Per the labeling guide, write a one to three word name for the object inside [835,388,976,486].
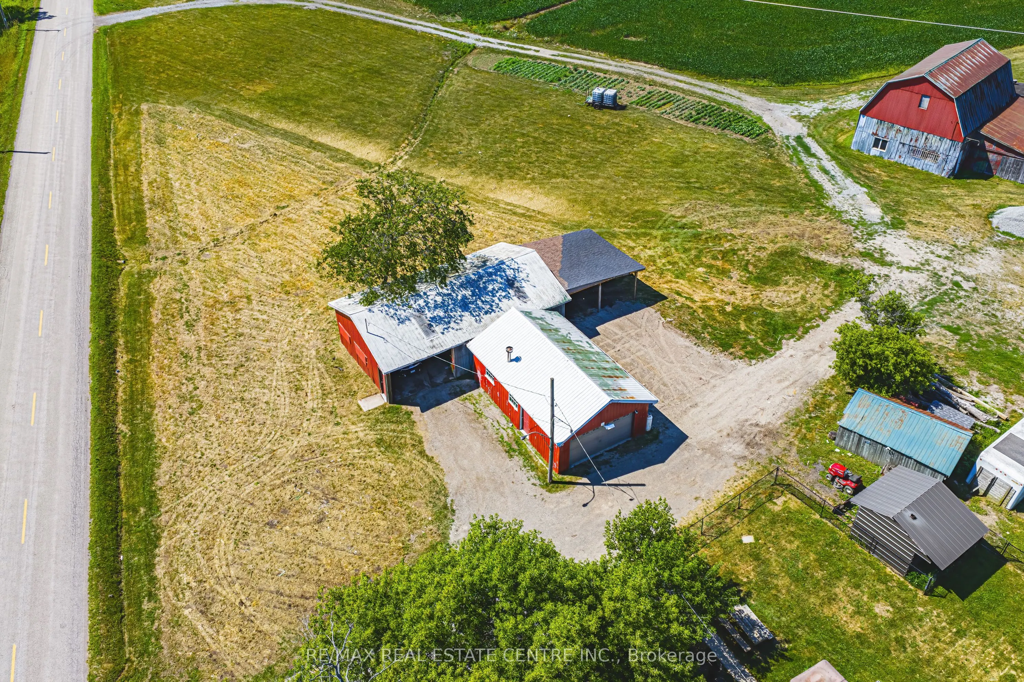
shed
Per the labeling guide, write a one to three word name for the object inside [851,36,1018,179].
barn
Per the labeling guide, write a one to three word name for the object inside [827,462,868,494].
work vehicle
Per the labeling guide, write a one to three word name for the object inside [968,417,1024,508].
trailer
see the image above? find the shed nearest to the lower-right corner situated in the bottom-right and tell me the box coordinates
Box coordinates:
[851,465,989,593]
